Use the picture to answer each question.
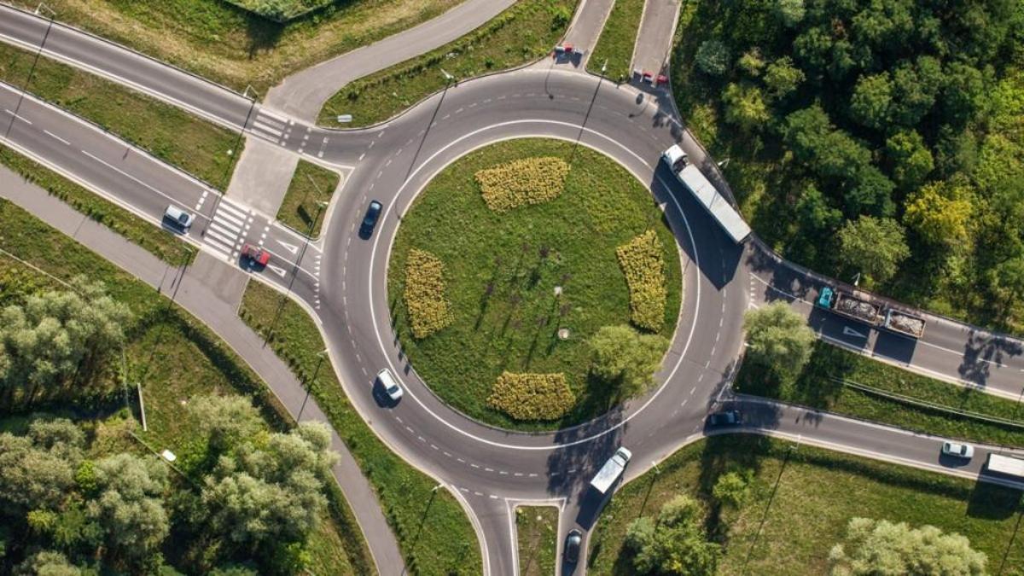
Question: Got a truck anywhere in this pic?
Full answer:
Yes, a truck is visible in the scene.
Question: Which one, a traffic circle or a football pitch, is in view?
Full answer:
There is a traffic circle in the scene.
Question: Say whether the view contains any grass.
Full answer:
Yes, the picture does contain grass.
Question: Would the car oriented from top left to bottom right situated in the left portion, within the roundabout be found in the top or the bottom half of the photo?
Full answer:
The car oriented from top left to bottom right situated in the left portion, within the roundabout is in the bottom half of the image.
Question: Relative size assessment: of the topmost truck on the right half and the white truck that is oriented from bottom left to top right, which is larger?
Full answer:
Of the two, the topmost truck on the right half is larger and the white truck that is oriented from bottom left to top right is the smaller one.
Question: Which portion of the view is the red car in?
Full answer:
The red car sits in the left section of the image.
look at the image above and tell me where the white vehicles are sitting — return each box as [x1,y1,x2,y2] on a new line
[591,447,631,493]
[377,369,402,399]
[665,146,752,244]
[163,205,193,227]
[982,453,1024,477]
[943,442,975,457]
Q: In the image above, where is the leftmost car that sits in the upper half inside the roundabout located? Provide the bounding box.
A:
[361,200,380,233]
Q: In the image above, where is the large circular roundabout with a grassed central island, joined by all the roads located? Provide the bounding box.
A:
[323,63,746,498]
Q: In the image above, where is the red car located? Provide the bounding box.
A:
[241,245,271,265]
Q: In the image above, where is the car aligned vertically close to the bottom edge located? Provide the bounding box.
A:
[565,529,581,562]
